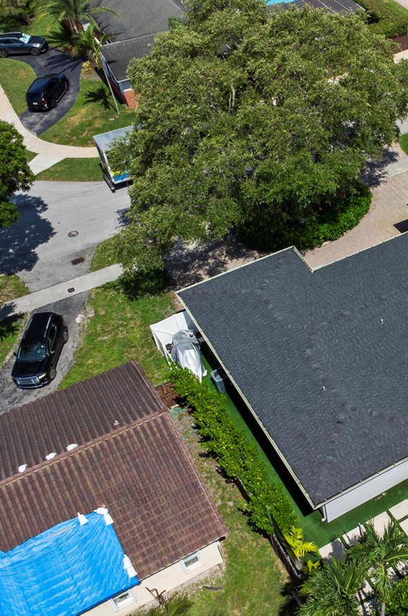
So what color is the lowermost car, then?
black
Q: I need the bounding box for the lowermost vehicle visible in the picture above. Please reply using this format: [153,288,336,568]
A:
[3,313,68,396]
